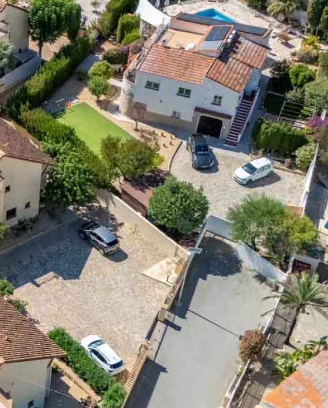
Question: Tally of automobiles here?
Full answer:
In total, there are 4 automobiles in the scene.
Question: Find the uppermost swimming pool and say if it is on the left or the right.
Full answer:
It is on the right.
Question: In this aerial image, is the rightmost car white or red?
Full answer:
In this view, the rightmost car is white.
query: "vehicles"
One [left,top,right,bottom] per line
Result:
[187,134,216,170]
[74,331,131,380]
[232,156,278,185]
[75,220,125,256]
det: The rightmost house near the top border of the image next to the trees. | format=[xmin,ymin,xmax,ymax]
[131,12,269,136]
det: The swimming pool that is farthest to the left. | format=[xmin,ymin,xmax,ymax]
[190,5,252,39]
